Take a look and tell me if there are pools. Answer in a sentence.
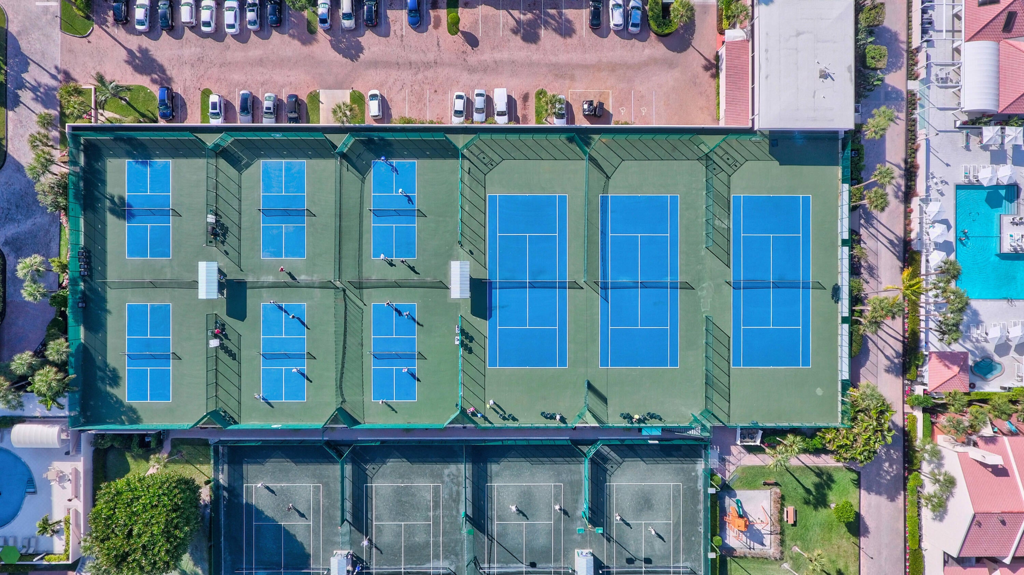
Yes, you can see a pool in this photo.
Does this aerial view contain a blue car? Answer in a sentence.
Yes, the photo shows a blue car.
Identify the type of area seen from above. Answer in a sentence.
It's a sports ground.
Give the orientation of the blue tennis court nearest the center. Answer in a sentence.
I'd say the blue tennis court nearest the center is aligned vertically in the picture.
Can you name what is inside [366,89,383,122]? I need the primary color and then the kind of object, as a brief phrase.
white car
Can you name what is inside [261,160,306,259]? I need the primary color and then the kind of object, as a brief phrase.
blue sports court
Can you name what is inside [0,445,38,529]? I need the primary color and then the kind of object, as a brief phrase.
blue swimming pool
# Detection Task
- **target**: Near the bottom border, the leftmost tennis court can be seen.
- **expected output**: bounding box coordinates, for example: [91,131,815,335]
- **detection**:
[243,485,322,575]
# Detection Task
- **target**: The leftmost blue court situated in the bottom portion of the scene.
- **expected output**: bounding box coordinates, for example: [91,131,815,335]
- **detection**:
[126,303,171,402]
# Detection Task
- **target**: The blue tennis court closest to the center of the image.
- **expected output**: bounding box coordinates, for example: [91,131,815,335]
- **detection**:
[488,194,568,368]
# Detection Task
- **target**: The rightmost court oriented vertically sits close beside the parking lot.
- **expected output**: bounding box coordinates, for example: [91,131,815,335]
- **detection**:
[732,194,811,368]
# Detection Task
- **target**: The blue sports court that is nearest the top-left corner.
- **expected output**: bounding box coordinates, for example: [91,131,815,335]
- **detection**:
[126,160,171,259]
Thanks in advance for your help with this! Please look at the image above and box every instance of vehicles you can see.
[237,90,255,123]
[587,0,604,29]
[553,94,569,123]
[178,0,198,27]
[245,0,262,31]
[285,93,302,123]
[156,0,175,31]
[339,0,356,30]
[627,0,644,34]
[208,93,226,123]
[156,85,176,121]
[492,86,509,123]
[223,0,241,35]
[317,0,333,30]
[362,0,379,26]
[199,0,217,33]
[268,0,283,27]
[450,91,467,123]
[366,89,383,122]
[406,0,422,28]
[111,0,131,24]
[133,0,152,32]
[609,0,626,31]
[260,92,278,123]
[471,89,488,123]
